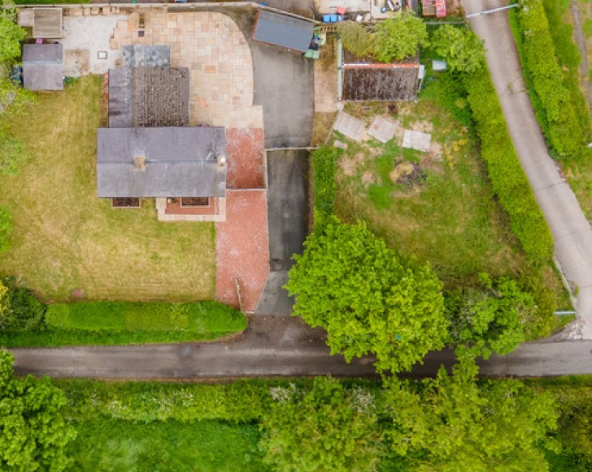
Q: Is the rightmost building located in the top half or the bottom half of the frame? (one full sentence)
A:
You can find the rightmost building in the top half.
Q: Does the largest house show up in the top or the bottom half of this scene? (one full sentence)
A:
It is in the top half that the largest house appears.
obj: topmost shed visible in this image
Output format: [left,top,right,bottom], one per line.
[249,11,314,52]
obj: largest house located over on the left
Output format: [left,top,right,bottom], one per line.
[98,44,232,207]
